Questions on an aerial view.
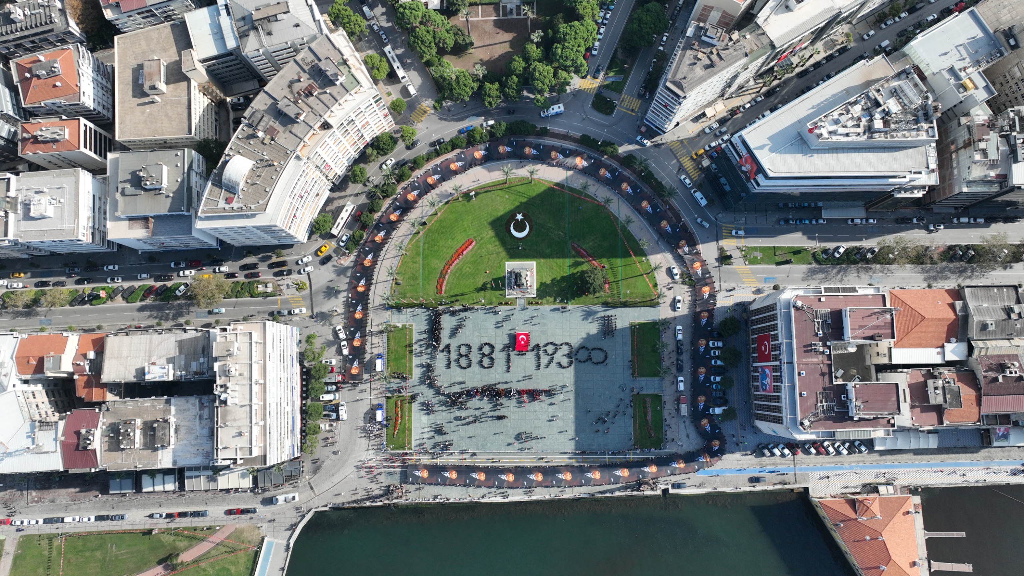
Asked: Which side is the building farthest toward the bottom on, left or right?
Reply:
right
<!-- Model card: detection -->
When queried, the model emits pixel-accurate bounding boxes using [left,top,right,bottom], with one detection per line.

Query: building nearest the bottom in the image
[805,494,929,576]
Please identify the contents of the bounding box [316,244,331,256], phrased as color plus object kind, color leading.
yellow vehicle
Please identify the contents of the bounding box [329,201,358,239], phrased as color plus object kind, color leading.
white bus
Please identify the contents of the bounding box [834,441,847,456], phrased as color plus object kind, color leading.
white vehicle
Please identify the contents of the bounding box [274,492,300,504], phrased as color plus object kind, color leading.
white vehicle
